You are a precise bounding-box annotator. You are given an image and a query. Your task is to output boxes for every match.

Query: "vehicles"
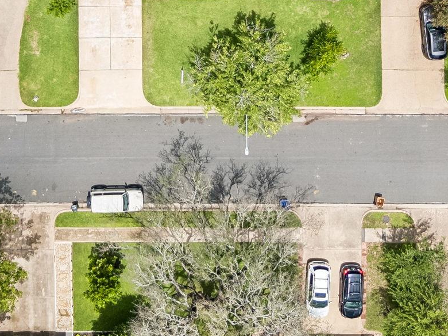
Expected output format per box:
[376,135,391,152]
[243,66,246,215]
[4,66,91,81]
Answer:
[86,184,141,212]
[338,260,364,315]
[417,3,446,60]
[306,258,332,316]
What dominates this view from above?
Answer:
paved ground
